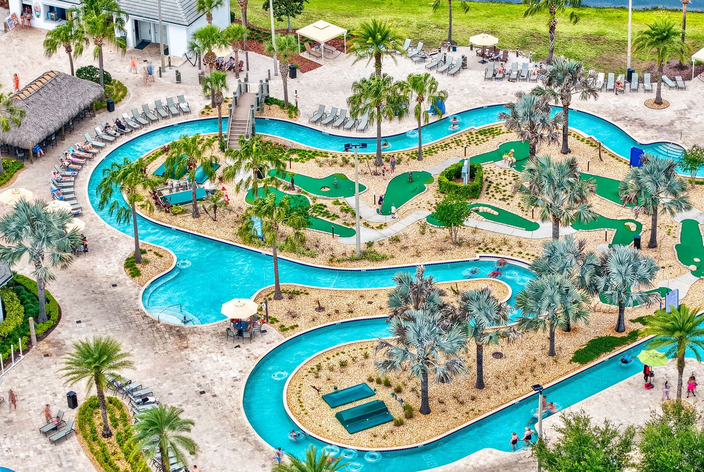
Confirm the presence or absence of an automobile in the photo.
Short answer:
No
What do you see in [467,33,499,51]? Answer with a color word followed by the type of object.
white umbrella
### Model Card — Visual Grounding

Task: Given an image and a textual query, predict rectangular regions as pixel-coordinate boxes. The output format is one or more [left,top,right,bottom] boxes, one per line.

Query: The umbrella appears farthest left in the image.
[0,186,34,216]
